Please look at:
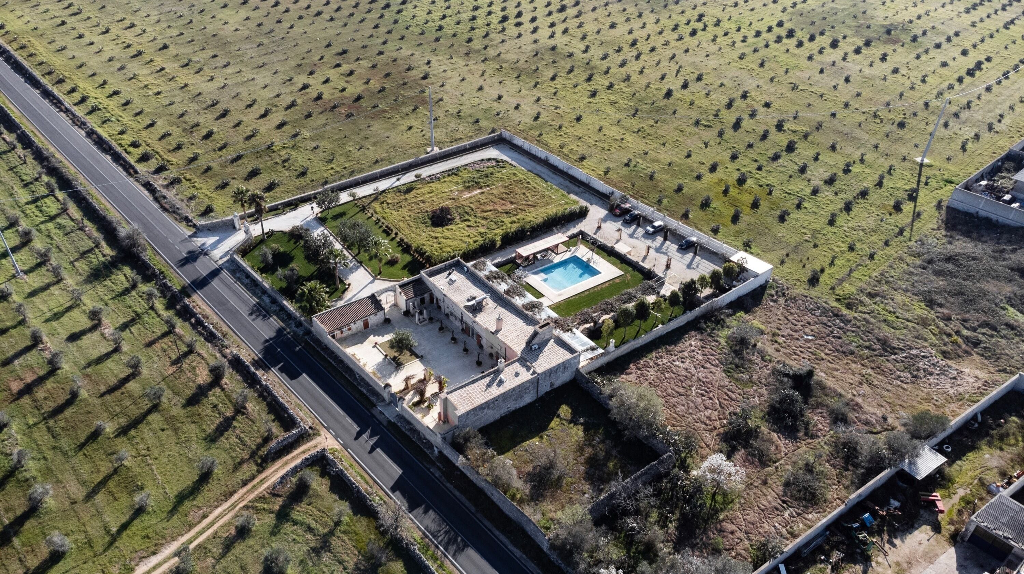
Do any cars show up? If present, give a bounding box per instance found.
[625,211,644,223]
[613,204,631,215]
[647,221,666,234]
[678,237,698,250]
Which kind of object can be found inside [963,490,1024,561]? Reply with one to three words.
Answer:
barn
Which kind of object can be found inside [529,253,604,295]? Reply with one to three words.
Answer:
swimming pool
